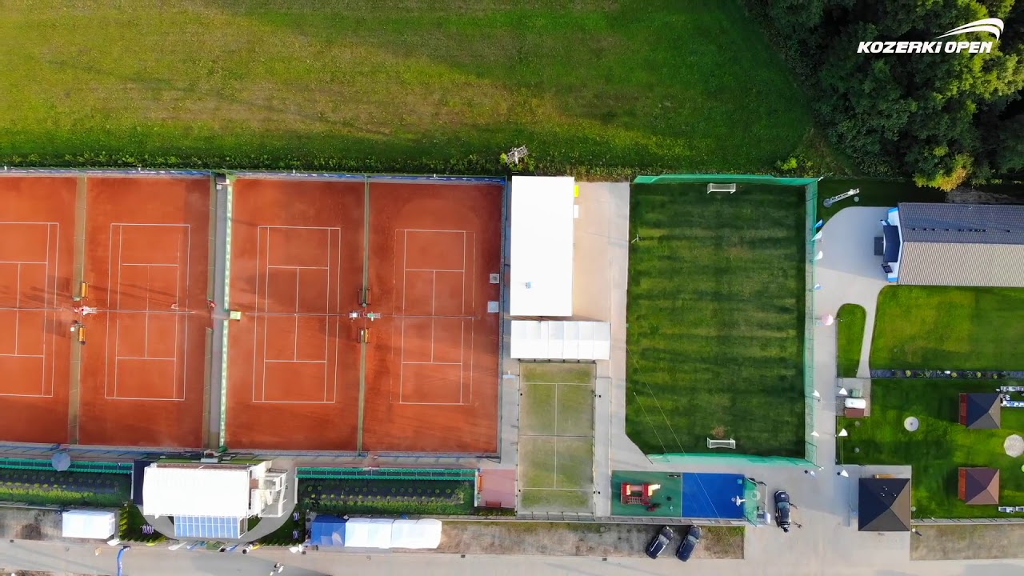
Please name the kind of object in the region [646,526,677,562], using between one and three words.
car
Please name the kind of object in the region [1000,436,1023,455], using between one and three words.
umbrella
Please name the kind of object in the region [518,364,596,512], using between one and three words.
sports court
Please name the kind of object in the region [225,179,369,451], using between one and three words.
tennis court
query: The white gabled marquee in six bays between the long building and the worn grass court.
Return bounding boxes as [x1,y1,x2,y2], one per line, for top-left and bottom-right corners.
[510,321,610,360]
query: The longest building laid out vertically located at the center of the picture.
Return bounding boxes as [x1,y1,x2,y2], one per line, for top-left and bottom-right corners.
[510,176,574,317]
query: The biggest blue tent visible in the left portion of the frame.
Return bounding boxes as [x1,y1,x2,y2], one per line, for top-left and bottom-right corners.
[311,512,349,546]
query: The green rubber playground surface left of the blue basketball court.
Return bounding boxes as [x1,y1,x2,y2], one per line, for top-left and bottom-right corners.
[611,471,682,518]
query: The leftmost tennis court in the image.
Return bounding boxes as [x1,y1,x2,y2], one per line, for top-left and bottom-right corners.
[0,178,86,441]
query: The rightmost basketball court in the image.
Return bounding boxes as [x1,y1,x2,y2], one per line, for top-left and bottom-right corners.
[681,472,745,519]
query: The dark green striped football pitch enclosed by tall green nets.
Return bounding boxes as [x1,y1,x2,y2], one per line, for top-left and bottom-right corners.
[628,184,804,458]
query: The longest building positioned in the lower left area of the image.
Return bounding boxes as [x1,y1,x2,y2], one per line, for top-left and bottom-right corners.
[142,455,294,539]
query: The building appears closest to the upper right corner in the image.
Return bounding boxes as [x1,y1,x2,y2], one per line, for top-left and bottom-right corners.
[876,200,1024,289]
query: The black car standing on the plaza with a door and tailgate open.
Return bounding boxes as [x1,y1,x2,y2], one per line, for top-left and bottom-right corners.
[775,492,799,533]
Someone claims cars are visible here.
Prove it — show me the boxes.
[646,526,677,562]
[775,492,799,533]
[675,526,704,563]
